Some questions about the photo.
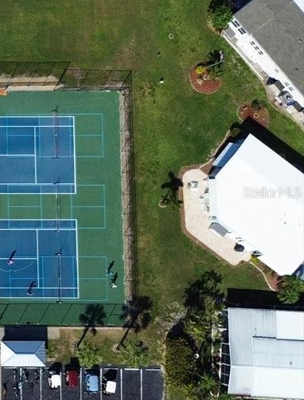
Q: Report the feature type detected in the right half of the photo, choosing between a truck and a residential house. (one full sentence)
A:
Looking in the right half of the photo, you will find a residential house.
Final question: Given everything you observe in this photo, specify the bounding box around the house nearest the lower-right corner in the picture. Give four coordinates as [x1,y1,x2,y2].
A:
[211,308,304,399]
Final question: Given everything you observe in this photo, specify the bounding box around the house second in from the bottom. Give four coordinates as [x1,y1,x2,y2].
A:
[205,134,304,277]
